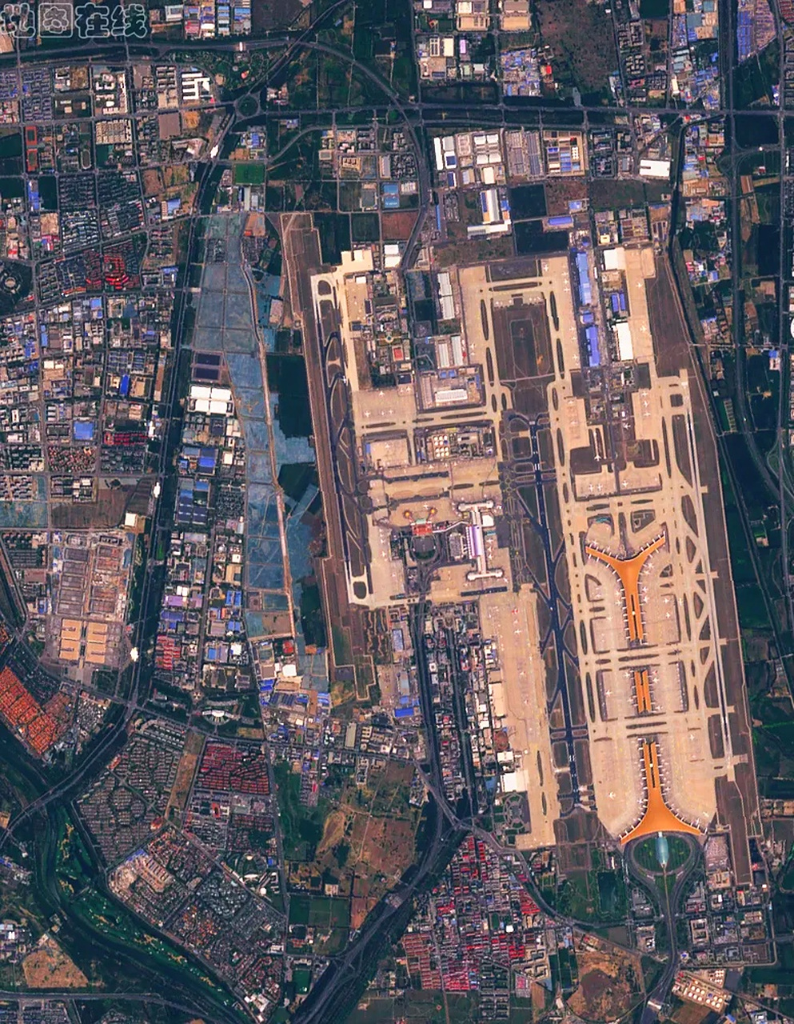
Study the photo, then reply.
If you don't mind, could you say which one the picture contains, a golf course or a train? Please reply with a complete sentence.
Looking from above, you can make out a golf course.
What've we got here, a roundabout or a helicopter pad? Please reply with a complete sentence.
I can see a roundabout in this picture.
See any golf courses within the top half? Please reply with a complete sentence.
No, no golf course can be made out within the top half.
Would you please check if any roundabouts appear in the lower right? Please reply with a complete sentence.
Yes, a roundabout can be seen in the lower right.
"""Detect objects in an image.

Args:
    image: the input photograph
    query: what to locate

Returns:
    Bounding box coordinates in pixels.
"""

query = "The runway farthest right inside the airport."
[683,376,735,780]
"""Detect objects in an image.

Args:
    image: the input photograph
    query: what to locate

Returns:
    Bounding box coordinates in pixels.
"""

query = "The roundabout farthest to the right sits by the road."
[623,830,702,928]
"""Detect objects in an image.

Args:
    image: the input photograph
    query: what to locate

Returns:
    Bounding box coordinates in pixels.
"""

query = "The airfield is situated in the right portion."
[281,214,764,884]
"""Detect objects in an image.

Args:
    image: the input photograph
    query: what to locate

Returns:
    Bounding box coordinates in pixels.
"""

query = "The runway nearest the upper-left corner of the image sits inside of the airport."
[310,276,353,604]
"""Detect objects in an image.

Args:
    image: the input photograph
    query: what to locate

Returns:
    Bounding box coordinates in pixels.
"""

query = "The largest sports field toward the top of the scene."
[234,162,265,184]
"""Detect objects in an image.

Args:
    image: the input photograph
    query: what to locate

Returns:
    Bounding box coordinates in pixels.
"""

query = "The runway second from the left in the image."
[529,421,580,802]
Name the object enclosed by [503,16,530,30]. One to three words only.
building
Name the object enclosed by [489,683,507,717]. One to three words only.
hangar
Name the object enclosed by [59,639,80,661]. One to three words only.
building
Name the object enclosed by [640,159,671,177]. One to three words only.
shed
